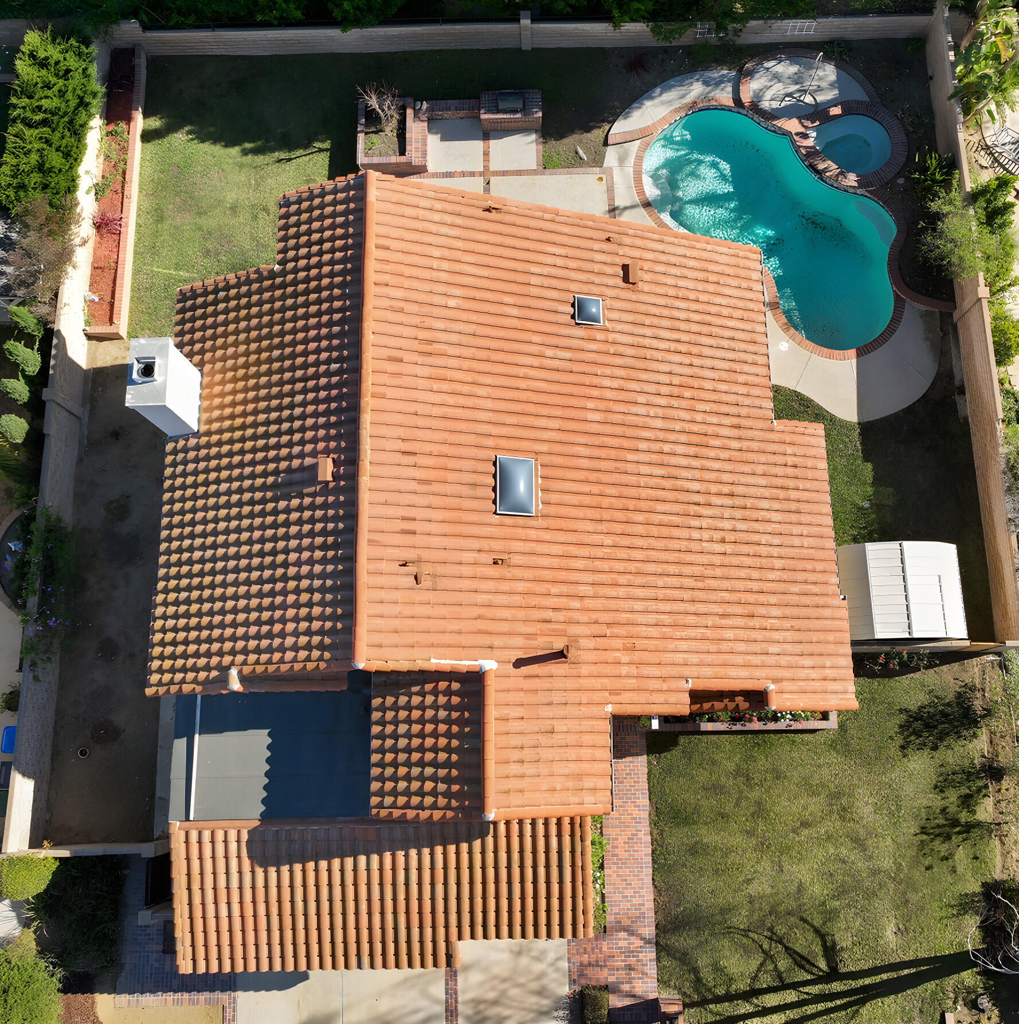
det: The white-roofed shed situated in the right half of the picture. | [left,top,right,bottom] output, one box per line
[843,543,969,639]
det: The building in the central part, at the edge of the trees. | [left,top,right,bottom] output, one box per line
[125,165,868,981]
